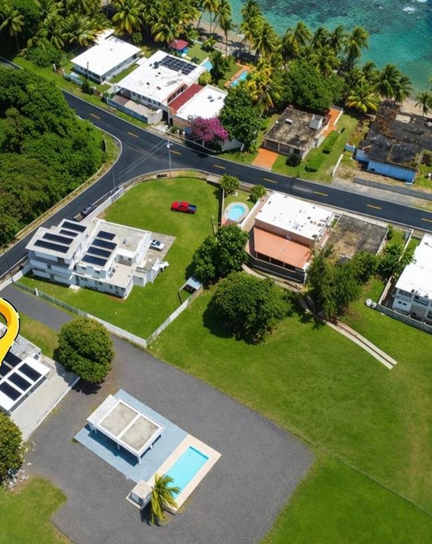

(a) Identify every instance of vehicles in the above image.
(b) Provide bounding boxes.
[149,236,170,250]
[77,202,99,217]
[170,201,198,214]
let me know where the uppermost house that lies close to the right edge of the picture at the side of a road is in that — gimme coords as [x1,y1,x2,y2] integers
[354,110,432,185]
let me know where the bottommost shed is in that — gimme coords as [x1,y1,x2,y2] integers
[126,480,153,510]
